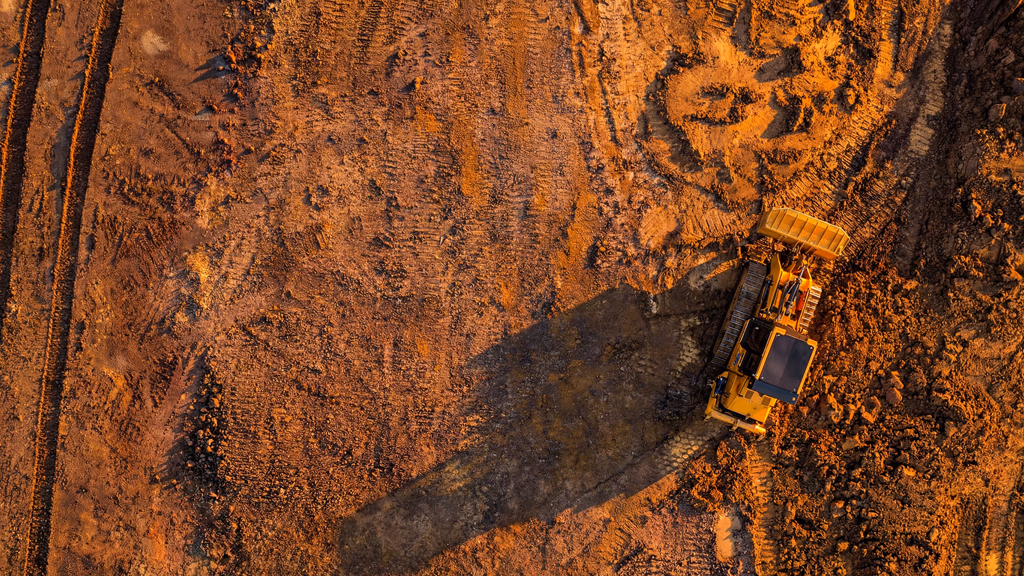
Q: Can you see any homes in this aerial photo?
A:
No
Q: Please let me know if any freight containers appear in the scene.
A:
No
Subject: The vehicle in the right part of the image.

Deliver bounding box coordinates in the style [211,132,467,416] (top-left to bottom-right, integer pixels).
[698,209,847,439]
